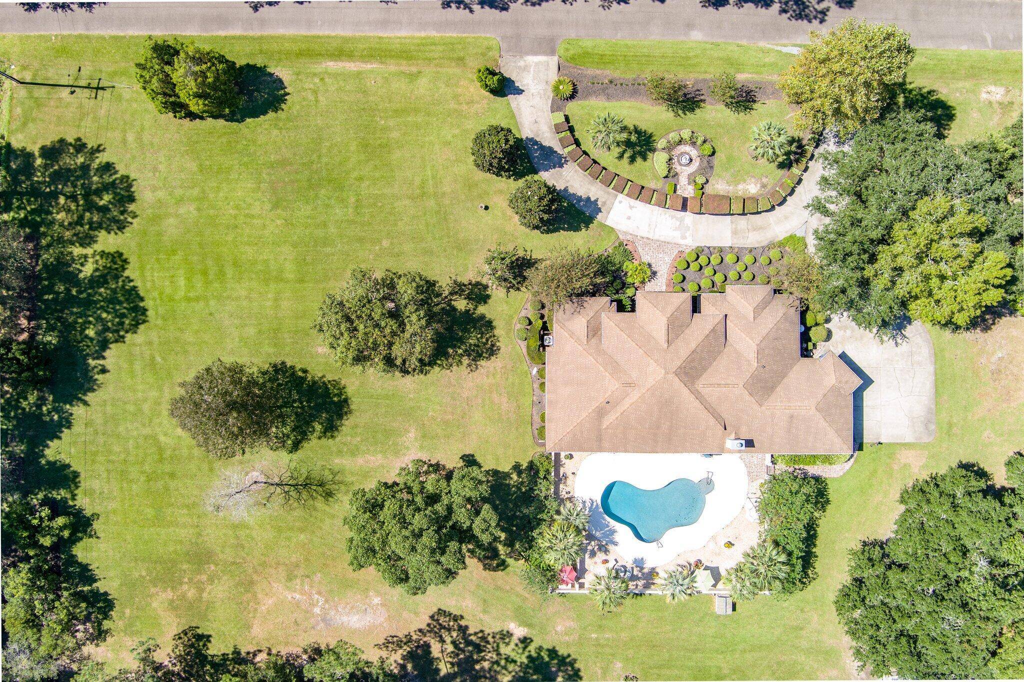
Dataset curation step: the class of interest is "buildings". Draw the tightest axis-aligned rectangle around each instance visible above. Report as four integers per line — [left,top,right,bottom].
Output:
[545,285,864,454]
[713,593,732,616]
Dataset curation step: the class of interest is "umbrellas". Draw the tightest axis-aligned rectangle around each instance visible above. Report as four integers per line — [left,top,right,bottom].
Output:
[556,565,577,586]
[690,568,716,594]
[586,565,606,588]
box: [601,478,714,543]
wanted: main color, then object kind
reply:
blue swimming pool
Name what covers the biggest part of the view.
grass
